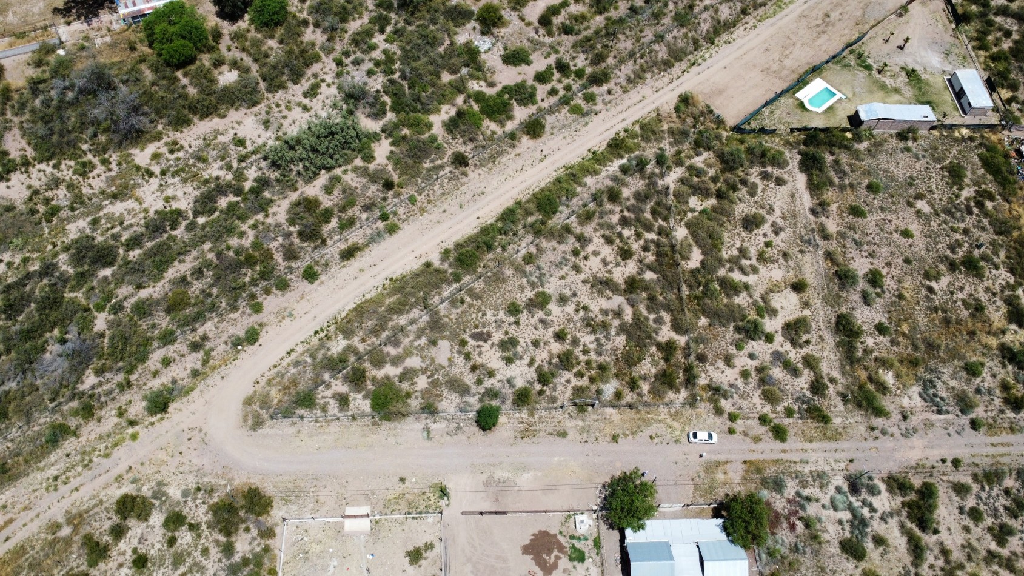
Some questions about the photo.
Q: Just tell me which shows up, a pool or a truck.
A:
pool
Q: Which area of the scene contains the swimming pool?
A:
top right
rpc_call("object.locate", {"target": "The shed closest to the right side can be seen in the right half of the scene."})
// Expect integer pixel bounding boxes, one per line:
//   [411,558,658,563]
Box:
[943,70,993,117]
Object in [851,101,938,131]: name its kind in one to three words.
shed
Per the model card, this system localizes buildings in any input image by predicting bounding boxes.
[943,70,993,117]
[622,519,749,576]
[114,0,175,27]
[851,101,938,131]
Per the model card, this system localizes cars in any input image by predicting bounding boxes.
[689,430,719,445]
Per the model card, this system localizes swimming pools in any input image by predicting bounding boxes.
[794,78,846,114]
